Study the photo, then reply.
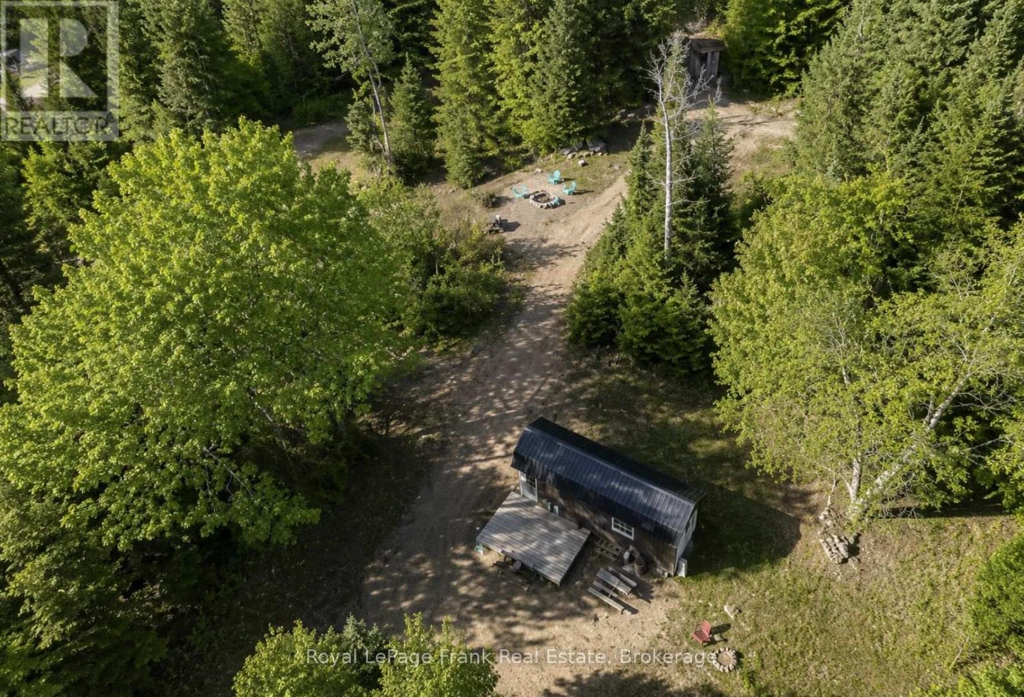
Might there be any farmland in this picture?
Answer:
No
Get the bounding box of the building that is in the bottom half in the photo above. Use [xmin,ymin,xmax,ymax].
[515,420,706,575]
